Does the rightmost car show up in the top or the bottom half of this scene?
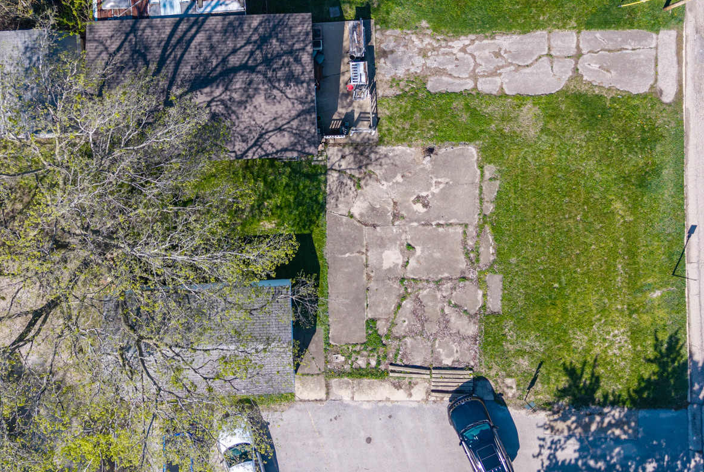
bottom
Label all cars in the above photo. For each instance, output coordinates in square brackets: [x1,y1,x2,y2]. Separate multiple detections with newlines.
[221,418,262,472]
[453,393,513,472]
